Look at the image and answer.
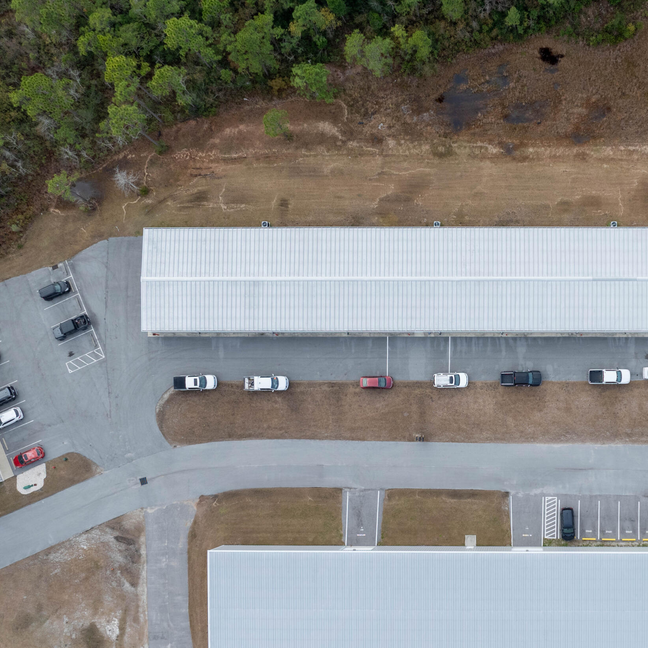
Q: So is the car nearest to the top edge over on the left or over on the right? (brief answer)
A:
left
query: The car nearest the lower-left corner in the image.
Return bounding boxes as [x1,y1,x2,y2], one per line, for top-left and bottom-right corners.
[14,446,49,469]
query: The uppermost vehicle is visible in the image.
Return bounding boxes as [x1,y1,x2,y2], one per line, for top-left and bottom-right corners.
[35,279,75,304]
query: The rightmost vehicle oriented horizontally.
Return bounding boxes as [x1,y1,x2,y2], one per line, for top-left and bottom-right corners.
[588,367,629,385]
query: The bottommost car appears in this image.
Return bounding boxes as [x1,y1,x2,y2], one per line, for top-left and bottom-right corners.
[560,507,576,542]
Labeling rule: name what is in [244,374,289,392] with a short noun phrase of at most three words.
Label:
vehicle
